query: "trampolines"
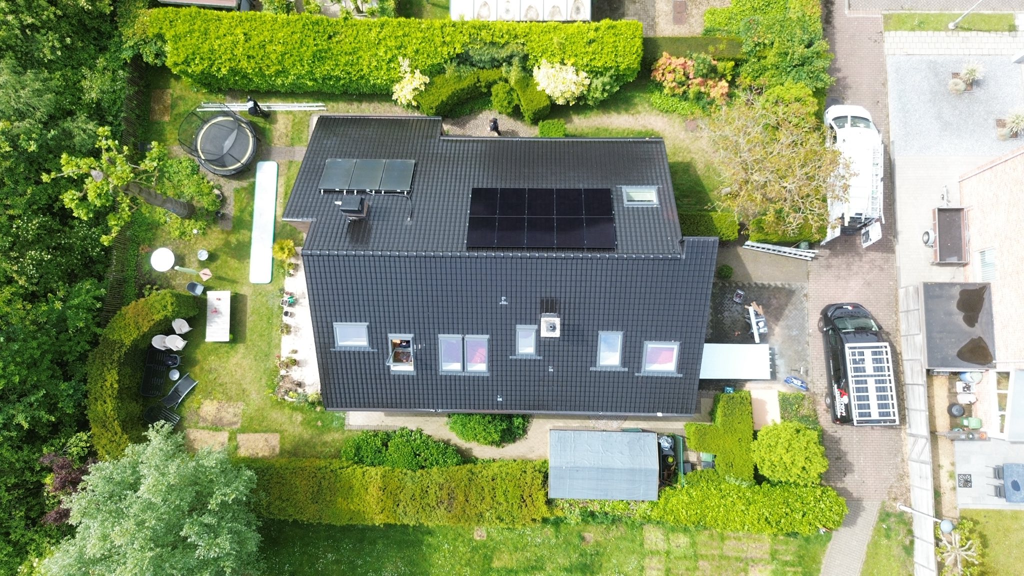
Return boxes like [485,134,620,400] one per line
[179,103,263,179]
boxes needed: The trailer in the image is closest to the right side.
[929,185,980,257]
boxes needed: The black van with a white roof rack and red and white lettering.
[820,305,895,434]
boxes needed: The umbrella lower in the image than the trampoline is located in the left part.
[177,265,212,281]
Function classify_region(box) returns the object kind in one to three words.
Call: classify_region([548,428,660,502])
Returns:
shed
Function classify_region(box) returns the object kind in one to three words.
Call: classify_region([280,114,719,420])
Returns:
house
